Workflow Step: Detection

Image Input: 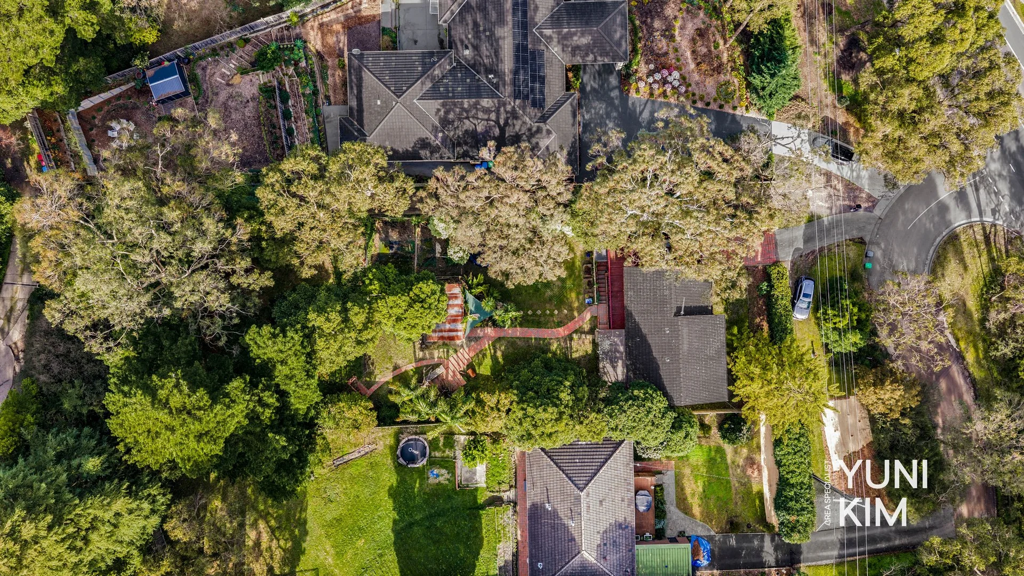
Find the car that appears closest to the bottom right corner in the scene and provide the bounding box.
[789,276,814,320]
